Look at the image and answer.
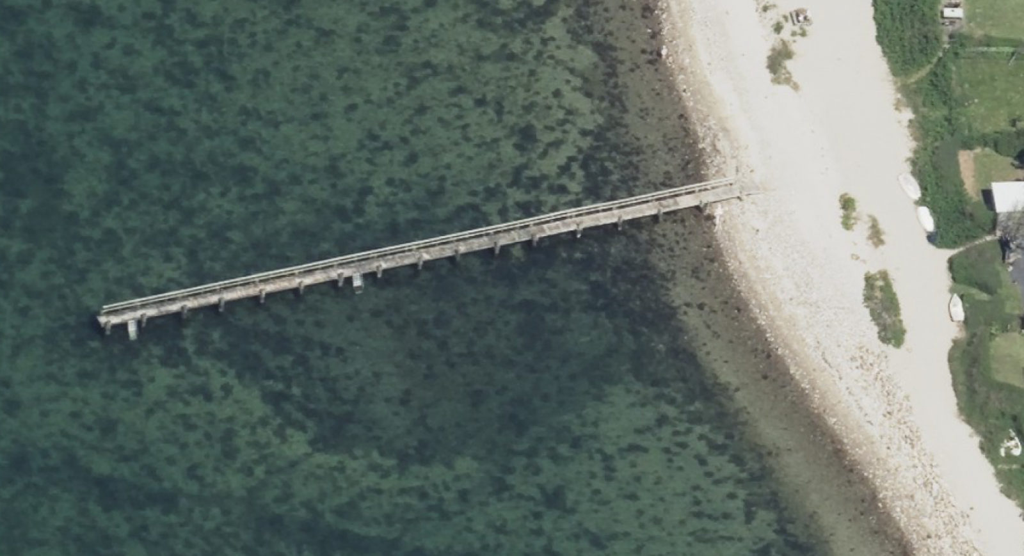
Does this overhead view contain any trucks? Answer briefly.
No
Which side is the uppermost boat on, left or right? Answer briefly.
right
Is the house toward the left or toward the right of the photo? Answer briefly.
right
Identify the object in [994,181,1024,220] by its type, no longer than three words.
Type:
house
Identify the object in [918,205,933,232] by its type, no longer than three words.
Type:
boat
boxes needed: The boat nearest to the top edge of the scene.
[899,171,922,200]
